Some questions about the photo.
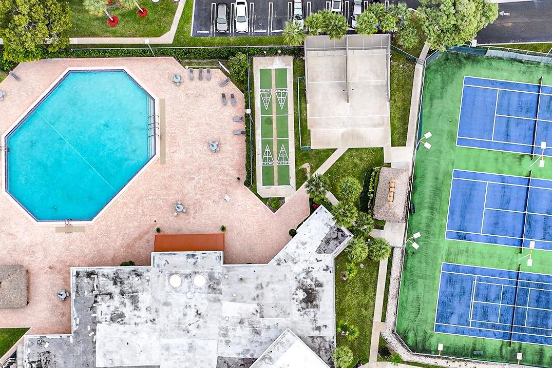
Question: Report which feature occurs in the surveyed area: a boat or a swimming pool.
swimming pool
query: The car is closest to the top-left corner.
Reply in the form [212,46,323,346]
[215,1,229,34]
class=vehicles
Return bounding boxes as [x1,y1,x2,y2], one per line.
[291,0,305,28]
[349,0,363,29]
[329,0,343,15]
[233,0,248,32]
[215,1,229,34]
